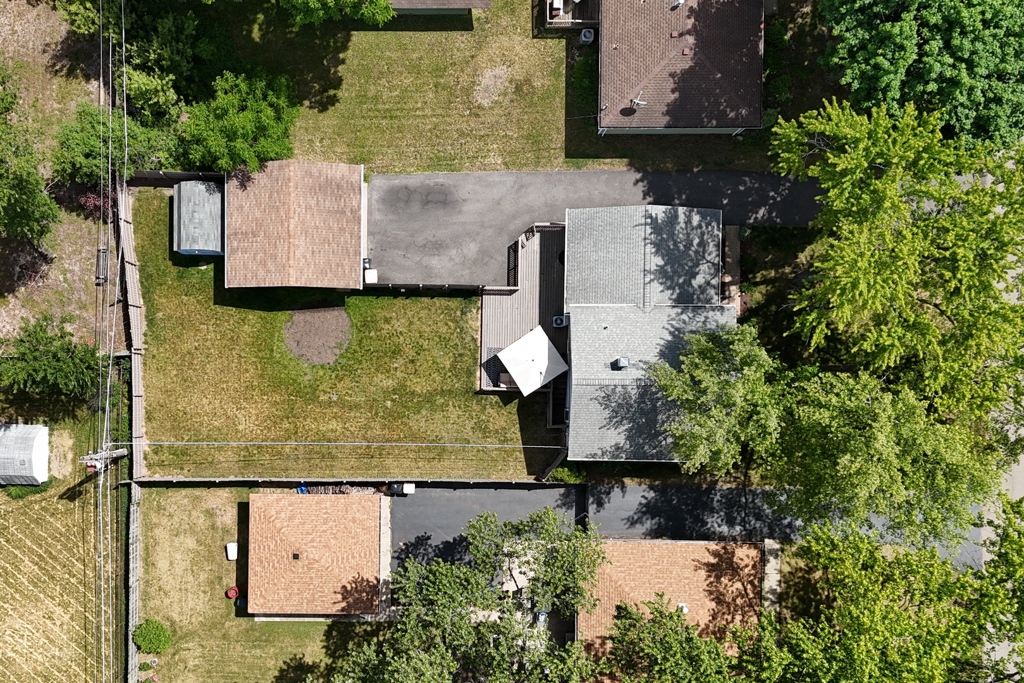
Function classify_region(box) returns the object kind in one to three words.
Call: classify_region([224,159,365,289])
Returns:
building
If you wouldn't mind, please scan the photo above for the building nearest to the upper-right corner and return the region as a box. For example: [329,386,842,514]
[592,0,764,134]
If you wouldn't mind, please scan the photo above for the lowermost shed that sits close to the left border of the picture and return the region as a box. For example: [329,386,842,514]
[0,425,49,484]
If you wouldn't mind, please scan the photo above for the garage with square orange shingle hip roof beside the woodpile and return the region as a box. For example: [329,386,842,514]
[249,491,383,614]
